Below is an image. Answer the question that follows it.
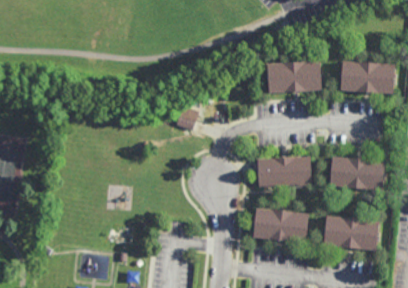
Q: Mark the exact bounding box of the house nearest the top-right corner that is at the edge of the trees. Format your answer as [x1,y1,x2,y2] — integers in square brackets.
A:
[340,62,396,94]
